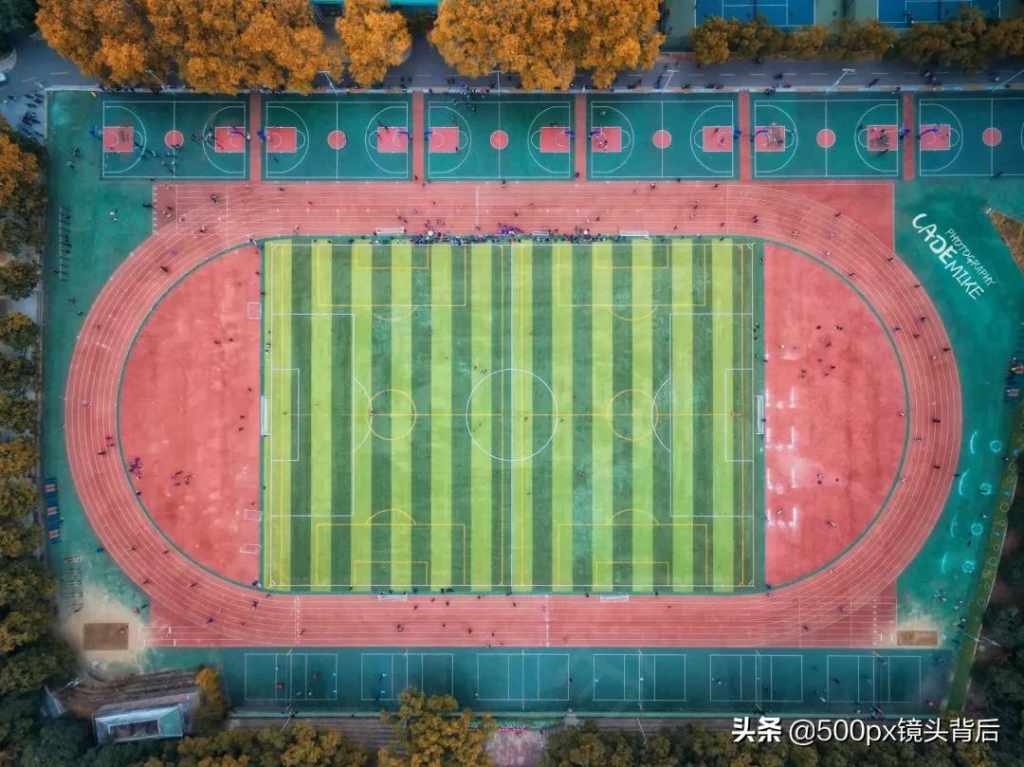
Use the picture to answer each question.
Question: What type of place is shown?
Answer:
sports ground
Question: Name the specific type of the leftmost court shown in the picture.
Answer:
basketball court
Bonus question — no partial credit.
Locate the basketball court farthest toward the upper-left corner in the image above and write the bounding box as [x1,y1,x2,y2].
[99,92,250,180]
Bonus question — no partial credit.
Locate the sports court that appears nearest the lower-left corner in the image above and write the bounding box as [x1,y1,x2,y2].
[245,654,336,700]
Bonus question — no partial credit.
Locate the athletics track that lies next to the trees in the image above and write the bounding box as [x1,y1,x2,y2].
[63,181,963,648]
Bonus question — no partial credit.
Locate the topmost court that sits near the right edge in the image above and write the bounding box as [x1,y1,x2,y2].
[877,0,1001,30]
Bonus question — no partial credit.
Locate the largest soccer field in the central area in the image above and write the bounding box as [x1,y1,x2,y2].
[264,239,760,591]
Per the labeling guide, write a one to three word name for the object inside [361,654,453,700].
sports court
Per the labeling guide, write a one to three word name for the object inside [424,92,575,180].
basketball court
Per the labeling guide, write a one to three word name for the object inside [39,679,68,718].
shed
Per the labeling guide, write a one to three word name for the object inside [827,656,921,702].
sports court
